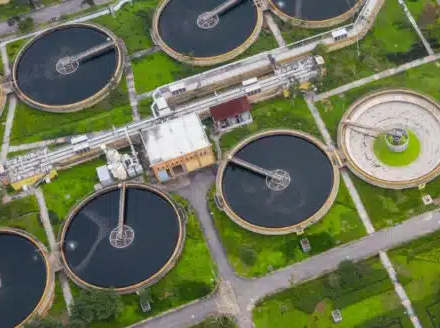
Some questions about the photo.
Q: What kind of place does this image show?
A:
industrial area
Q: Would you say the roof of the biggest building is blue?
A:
No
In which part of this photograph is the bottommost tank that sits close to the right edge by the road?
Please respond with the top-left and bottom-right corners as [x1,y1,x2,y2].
[337,89,440,191]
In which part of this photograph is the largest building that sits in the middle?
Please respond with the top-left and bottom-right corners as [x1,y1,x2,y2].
[136,108,217,184]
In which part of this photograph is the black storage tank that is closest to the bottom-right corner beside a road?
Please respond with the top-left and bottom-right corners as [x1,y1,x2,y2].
[213,129,340,236]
